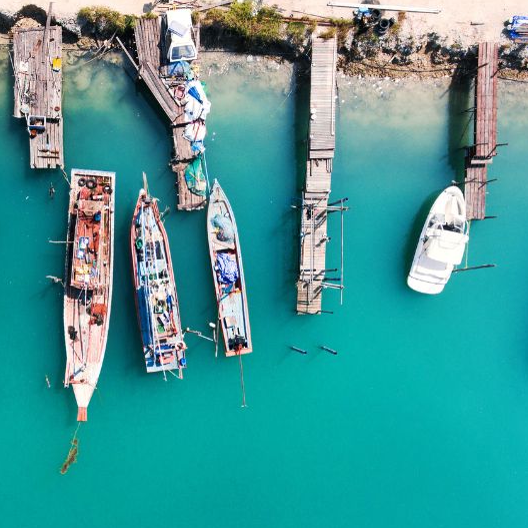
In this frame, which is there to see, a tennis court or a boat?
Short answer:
boat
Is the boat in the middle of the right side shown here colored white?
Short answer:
Yes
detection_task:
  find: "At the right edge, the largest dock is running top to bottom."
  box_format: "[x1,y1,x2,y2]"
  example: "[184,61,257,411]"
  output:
[454,43,512,220]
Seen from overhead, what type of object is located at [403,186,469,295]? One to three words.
boat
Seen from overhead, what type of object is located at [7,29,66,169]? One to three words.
pier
